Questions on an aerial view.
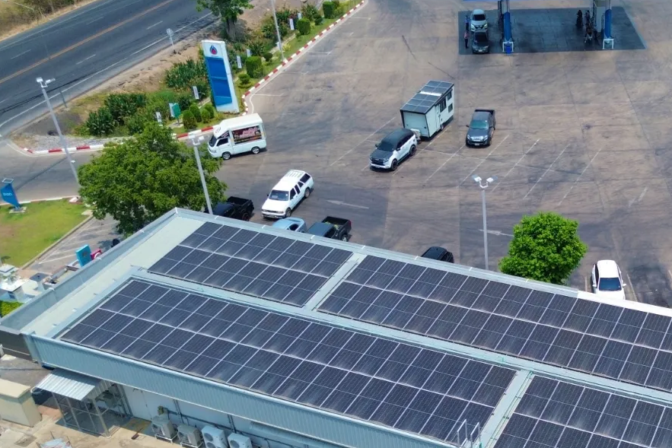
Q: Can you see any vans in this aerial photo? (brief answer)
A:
Yes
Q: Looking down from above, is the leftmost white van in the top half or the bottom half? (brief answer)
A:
top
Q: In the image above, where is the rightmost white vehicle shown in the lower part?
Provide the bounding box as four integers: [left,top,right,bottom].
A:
[592,265,630,295]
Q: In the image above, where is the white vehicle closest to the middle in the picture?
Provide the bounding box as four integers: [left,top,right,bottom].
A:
[260,171,312,217]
